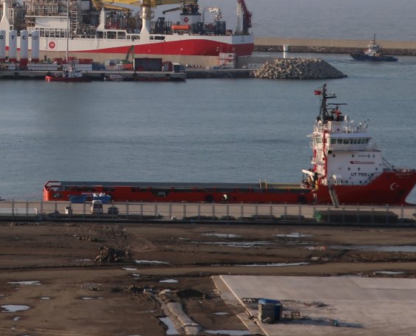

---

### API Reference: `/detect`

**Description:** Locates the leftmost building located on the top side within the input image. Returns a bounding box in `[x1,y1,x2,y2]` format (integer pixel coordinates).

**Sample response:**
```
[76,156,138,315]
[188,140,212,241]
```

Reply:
[133,58,162,73]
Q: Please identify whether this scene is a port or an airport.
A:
port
